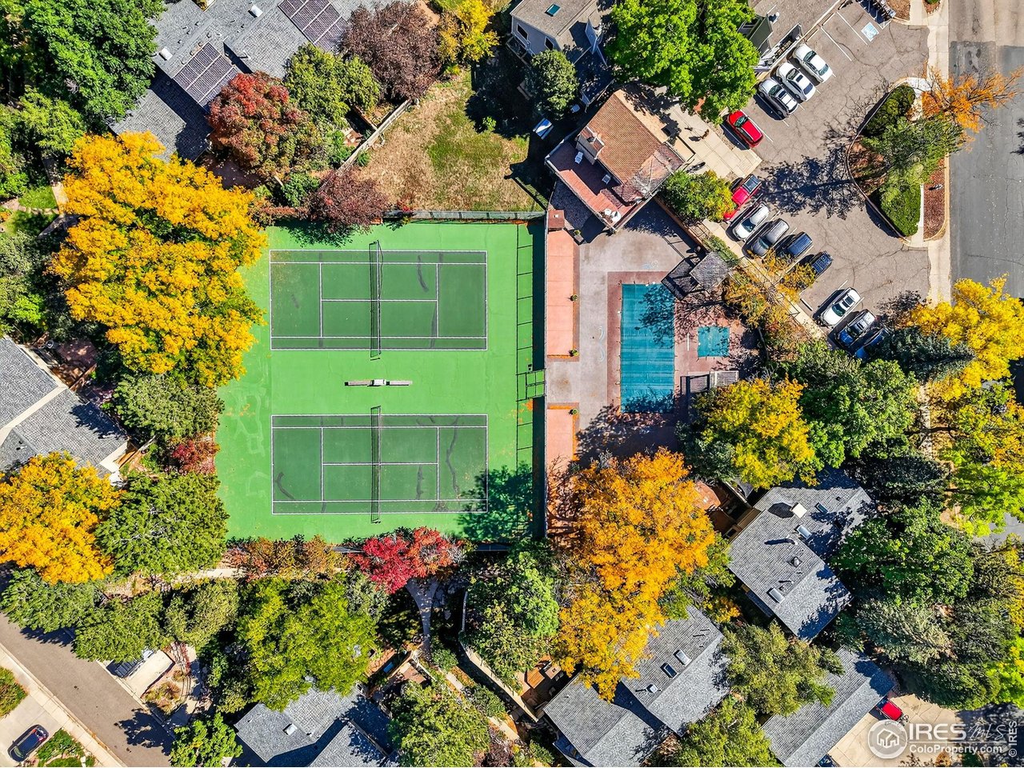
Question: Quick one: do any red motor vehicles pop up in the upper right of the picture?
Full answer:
Yes, a red motor vehicle can be seen in the upper right of the picture.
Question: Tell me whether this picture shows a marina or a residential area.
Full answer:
This looks like a residential area.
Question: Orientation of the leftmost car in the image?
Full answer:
I'd say the leftmost car is aligned at an angle in the picture.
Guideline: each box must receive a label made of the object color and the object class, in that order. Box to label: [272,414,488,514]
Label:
green tennis court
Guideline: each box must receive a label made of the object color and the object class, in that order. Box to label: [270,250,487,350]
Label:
green tennis court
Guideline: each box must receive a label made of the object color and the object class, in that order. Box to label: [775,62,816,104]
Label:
white car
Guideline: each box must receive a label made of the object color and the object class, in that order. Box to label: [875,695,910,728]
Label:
red car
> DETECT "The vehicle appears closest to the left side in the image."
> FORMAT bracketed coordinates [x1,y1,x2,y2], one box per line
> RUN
[8,721,52,763]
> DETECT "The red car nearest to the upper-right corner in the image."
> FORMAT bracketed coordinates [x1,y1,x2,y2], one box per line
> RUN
[726,112,764,150]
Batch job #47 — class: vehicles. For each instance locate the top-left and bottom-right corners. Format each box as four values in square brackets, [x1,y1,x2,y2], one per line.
[726,112,764,150]
[8,721,52,763]
[793,248,834,288]
[770,227,814,270]
[834,308,877,348]
[749,218,791,259]
[721,174,765,221]
[792,44,833,86]
[730,201,771,242]
[775,62,816,104]
[113,648,164,684]
[818,287,861,327]
[756,79,797,121]
[853,326,889,362]
[875,695,910,728]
